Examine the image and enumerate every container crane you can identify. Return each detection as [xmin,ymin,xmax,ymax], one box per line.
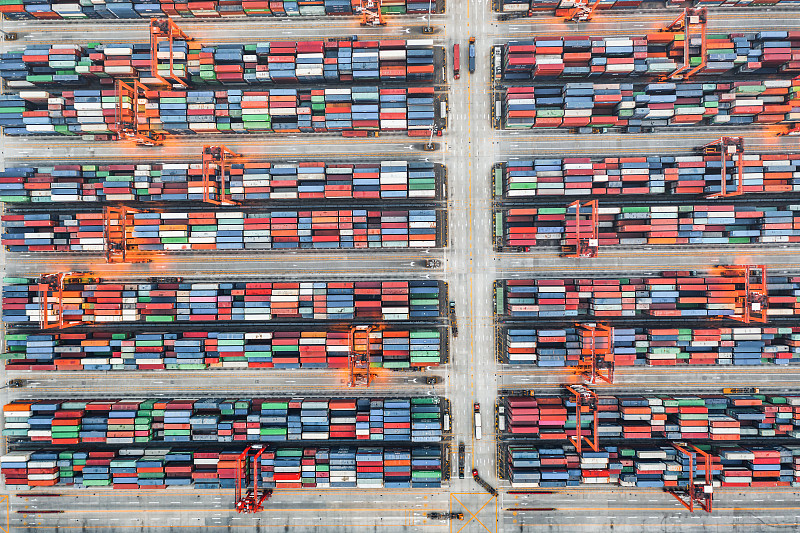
[114,78,165,145]
[102,206,153,264]
[657,5,709,81]
[691,137,745,200]
[558,200,599,259]
[559,385,598,453]
[234,442,274,515]
[573,324,615,387]
[662,440,712,513]
[355,0,391,24]
[712,266,769,324]
[37,273,96,331]
[149,16,197,89]
[202,144,244,206]
[345,326,380,388]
